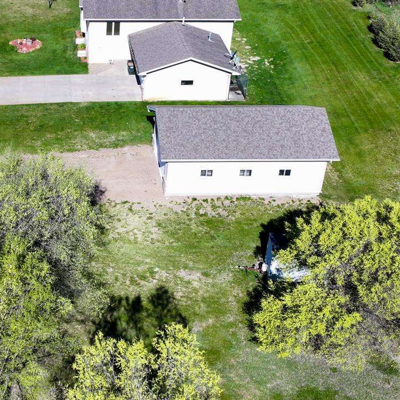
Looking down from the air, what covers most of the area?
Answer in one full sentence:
What you mostly see from above here is grass.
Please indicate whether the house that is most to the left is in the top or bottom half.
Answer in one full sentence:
You can find the house that is most to the left in the top half.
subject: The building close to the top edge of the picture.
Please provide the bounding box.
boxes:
[78,0,241,99]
